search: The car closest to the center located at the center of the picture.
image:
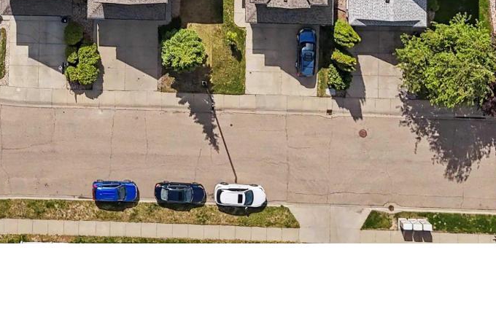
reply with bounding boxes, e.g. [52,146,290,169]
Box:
[214,182,265,210]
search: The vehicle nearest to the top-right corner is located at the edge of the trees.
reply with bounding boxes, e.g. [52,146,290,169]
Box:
[294,28,319,77]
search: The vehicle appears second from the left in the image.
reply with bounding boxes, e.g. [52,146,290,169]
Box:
[154,181,204,206]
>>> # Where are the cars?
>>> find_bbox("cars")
[154,181,204,206]
[92,179,138,204]
[294,28,319,77]
[214,182,265,210]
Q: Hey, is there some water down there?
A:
No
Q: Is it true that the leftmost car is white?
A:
No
